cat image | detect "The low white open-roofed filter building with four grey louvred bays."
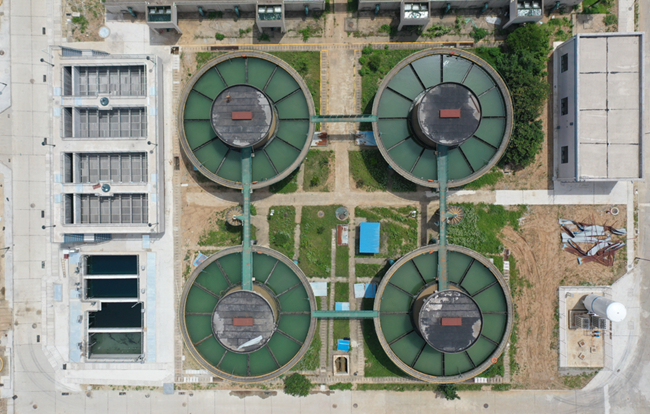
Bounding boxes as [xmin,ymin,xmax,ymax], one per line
[48,46,162,242]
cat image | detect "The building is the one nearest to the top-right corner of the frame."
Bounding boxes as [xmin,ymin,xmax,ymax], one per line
[555,33,643,182]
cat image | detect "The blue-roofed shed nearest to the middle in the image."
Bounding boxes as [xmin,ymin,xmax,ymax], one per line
[360,222,380,253]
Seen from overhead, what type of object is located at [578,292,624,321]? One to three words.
storage tank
